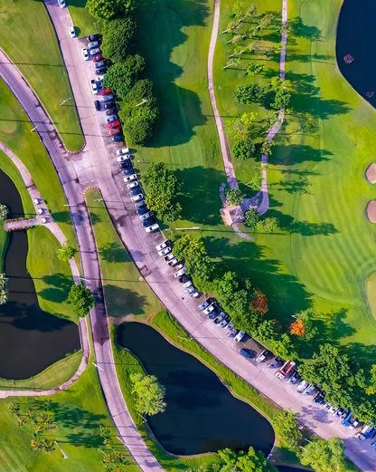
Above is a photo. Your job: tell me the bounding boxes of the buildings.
[218,204,243,226]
